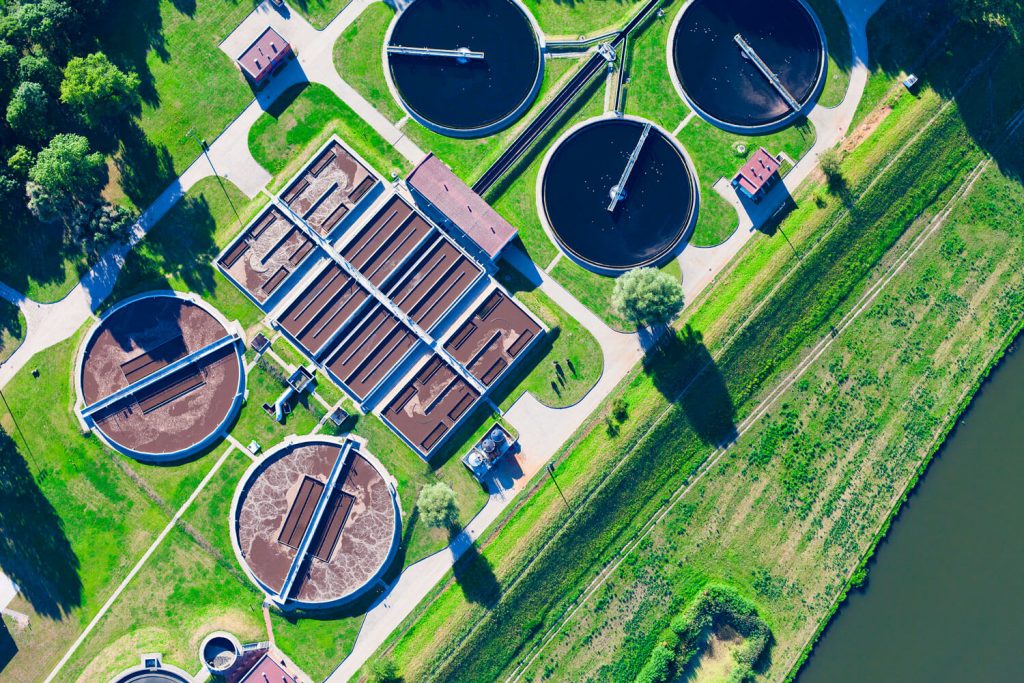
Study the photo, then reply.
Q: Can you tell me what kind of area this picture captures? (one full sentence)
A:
The area seen from above is an industrial area.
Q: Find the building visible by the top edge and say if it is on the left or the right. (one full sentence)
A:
It is on the left.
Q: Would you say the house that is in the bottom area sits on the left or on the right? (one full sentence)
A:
It is on the left.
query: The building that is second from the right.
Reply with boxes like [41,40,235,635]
[405,151,518,261]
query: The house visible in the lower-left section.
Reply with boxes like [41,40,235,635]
[226,648,304,683]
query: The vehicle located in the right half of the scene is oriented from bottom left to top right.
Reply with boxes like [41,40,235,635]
[902,72,919,87]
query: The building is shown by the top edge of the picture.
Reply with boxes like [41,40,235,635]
[238,27,295,84]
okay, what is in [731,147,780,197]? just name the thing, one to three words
building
